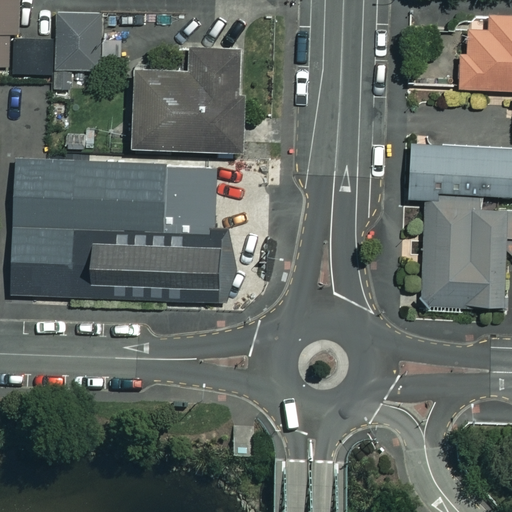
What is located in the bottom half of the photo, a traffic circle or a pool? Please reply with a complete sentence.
Visible in the bottom half of the photo is a traffic circle.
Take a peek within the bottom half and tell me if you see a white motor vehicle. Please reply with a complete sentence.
Yes, I can see a white motor vehicle within the bottom half.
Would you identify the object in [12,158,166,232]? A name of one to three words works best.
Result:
building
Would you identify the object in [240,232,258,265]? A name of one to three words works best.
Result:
car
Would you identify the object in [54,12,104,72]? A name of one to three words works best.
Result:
house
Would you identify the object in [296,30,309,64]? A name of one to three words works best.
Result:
vehicle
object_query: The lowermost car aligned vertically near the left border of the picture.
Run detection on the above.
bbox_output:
[7,88,21,120]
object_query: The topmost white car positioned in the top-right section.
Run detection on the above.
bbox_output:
[374,30,388,58]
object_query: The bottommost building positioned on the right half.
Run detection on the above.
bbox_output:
[420,194,507,314]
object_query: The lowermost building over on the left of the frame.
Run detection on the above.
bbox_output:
[10,229,237,303]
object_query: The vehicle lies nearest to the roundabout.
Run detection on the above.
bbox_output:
[281,397,298,432]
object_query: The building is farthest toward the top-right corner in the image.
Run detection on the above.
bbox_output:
[458,15,512,92]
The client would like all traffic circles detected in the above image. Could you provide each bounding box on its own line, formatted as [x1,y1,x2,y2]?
[298,340,348,390]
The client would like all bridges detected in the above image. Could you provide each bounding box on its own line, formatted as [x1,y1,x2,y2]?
[275,441,346,512]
